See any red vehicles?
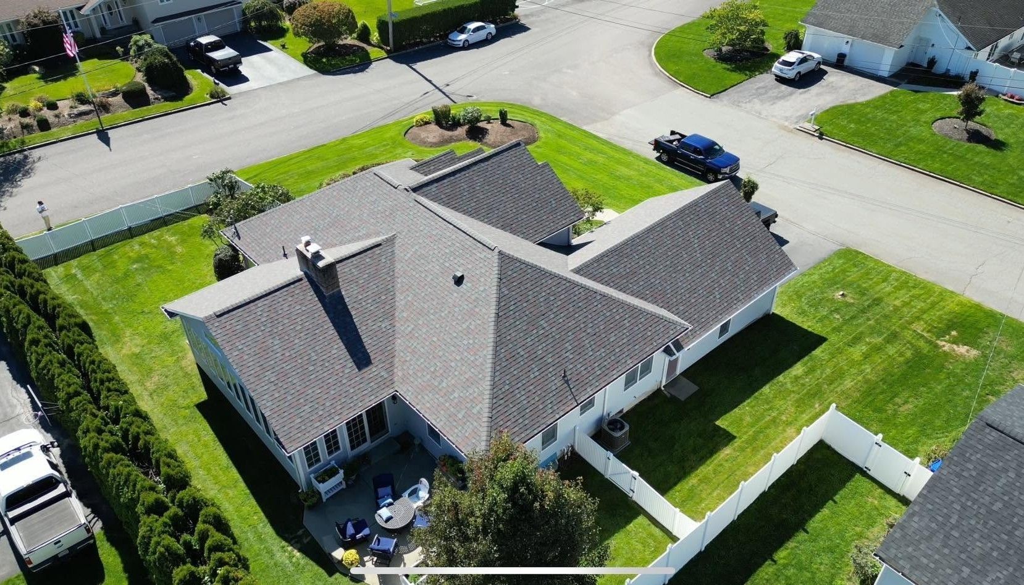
No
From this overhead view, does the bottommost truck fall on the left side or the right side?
left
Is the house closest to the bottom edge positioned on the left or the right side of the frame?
right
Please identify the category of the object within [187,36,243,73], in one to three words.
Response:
truck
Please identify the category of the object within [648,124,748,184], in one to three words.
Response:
truck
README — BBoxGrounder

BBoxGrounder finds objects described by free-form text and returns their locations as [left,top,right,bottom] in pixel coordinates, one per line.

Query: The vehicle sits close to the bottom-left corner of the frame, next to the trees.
[0,435,94,580]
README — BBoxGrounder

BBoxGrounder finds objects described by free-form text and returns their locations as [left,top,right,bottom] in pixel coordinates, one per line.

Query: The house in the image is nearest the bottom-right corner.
[868,385,1024,585]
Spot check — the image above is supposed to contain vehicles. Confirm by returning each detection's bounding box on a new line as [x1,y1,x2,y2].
[0,435,94,580]
[771,48,824,81]
[648,124,748,184]
[746,201,781,236]
[444,22,498,49]
[187,36,243,73]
